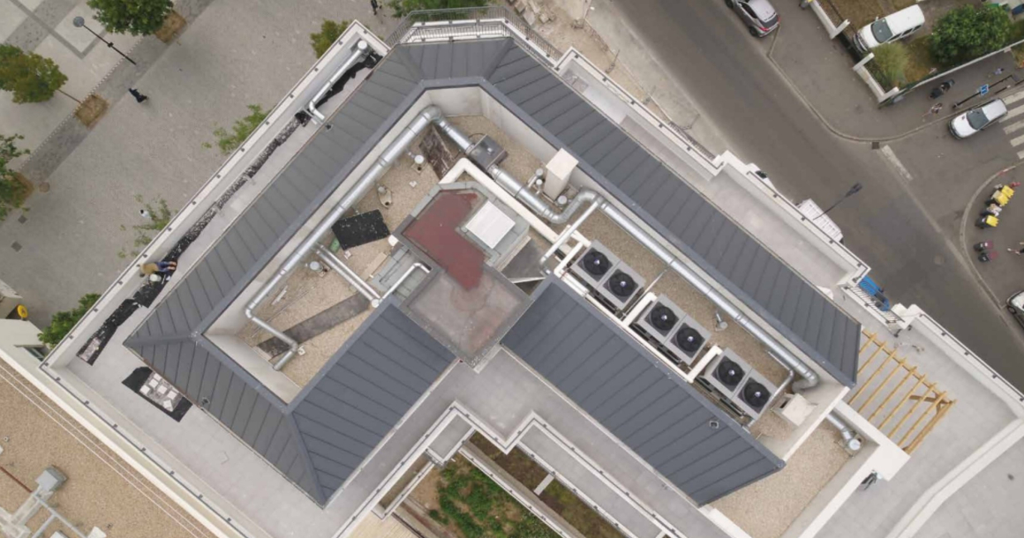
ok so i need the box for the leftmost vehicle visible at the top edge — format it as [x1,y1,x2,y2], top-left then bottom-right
[727,0,786,43]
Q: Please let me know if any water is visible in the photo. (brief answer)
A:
No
